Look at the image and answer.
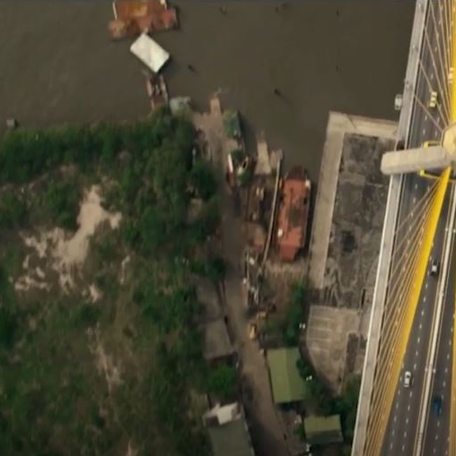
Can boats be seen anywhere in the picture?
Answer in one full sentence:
Yes, the image includes a boat.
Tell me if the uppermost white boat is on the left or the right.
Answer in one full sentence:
You can find the uppermost white boat on the left side of the picture.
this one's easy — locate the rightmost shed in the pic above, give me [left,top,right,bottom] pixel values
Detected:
[304,416,343,445]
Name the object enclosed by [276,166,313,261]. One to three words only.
ship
